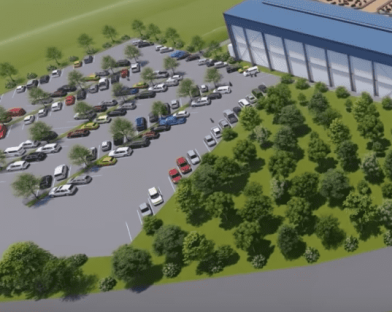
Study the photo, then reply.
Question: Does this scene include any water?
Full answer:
No, the picture contains no water.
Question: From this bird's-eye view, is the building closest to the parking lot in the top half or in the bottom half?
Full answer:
You can find the building closest to the parking lot in the top half.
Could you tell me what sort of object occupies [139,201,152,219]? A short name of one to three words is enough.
vehicle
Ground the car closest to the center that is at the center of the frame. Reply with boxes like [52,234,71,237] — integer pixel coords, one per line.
[187,150,200,164]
